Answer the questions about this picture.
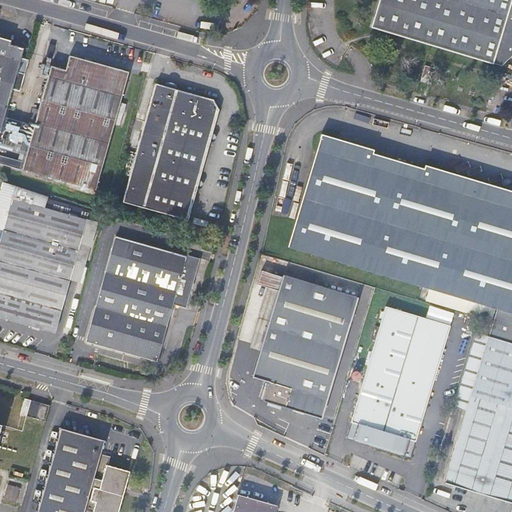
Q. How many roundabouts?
two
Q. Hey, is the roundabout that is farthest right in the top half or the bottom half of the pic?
top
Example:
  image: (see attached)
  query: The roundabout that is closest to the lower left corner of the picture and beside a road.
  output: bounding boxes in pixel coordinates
[142,370,254,468]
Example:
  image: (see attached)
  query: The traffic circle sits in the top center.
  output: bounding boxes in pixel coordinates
[228,20,328,124]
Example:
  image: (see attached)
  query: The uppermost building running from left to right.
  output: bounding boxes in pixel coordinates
[370,0,512,63]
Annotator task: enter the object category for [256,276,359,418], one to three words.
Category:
building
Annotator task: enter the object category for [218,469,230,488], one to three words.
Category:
vehicle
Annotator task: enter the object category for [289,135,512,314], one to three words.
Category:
warehouse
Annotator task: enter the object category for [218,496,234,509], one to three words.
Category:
vehicle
